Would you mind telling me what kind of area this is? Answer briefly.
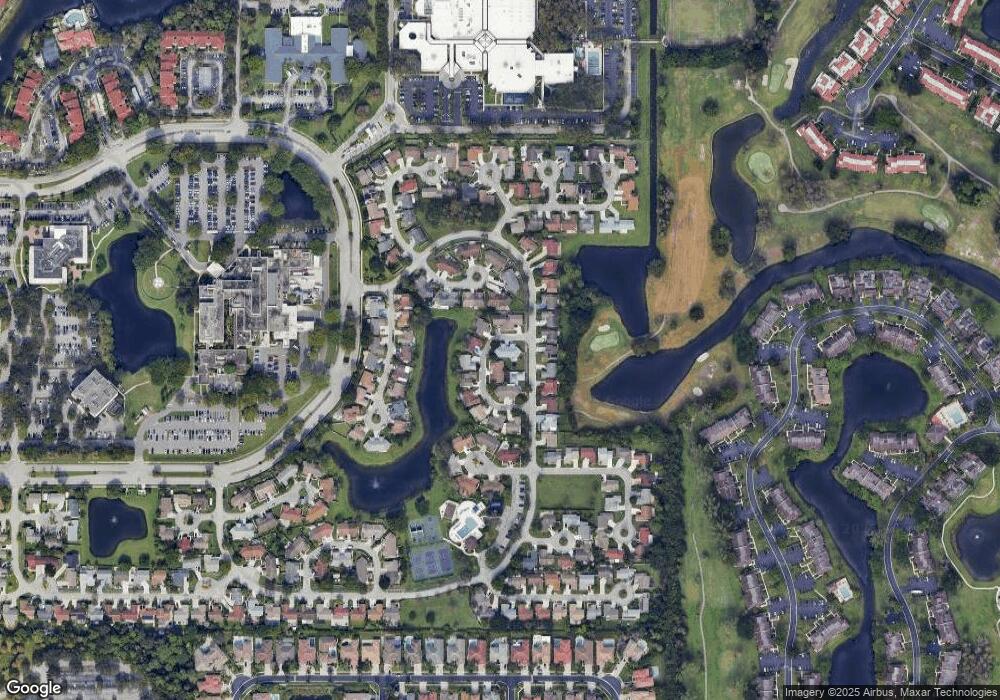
residential area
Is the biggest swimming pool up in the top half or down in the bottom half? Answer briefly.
bottom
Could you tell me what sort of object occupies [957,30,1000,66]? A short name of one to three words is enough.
building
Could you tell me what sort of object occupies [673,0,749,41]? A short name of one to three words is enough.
sports field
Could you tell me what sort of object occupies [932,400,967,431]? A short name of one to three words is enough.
swimming pool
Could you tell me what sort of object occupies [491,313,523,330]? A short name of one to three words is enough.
house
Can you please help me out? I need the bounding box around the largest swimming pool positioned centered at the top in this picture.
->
[586,47,603,75]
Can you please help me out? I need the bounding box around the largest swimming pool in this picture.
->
[440,501,485,543]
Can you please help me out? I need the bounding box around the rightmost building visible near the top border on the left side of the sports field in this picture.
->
[399,0,574,103]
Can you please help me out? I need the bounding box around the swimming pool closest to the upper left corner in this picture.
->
[62,9,87,28]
